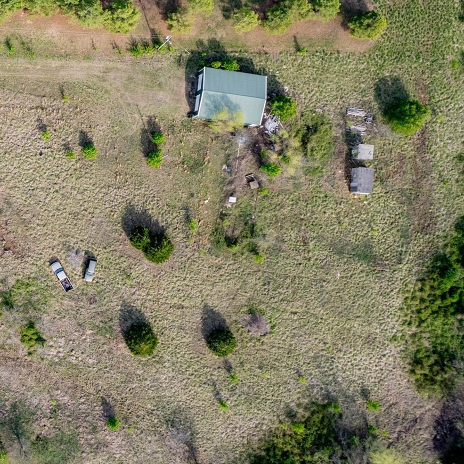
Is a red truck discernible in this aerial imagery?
No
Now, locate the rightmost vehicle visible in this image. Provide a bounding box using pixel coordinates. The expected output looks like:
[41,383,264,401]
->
[84,257,97,282]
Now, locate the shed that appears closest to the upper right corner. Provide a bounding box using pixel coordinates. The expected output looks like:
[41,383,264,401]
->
[345,144,373,160]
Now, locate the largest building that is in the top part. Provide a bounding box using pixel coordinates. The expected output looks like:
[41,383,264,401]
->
[192,67,268,126]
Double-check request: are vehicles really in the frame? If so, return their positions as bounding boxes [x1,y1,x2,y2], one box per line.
[50,261,74,293]
[84,257,97,282]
